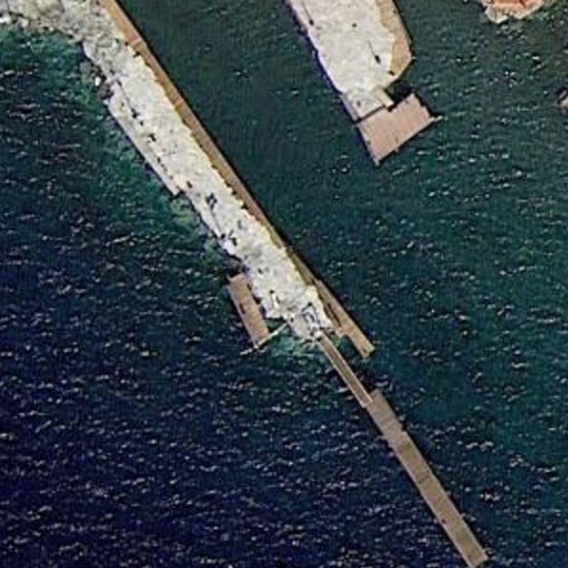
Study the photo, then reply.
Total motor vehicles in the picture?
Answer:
zero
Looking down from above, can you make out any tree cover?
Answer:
No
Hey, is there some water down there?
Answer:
Yes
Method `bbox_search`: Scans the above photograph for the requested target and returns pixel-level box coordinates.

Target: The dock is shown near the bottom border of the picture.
[365,389,489,568]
